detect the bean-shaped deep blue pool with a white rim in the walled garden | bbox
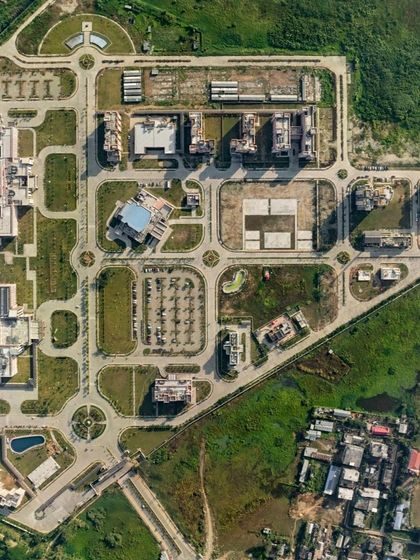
[10,436,45,452]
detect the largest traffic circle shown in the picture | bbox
[71,405,106,440]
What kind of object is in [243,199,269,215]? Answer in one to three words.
sports court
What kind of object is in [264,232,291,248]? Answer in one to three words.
sports court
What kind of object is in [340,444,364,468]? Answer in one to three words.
house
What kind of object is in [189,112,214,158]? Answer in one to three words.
building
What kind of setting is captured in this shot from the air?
residential area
